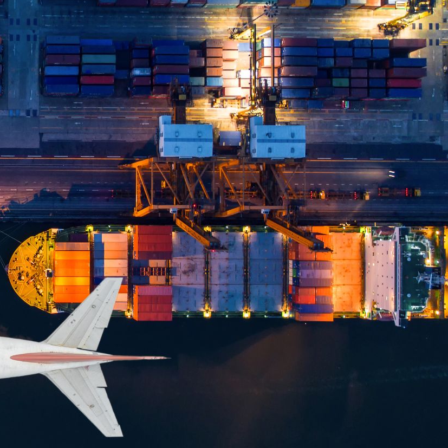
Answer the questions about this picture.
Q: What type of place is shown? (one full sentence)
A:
This image shows a port.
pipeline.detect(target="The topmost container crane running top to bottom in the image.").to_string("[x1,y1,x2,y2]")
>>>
[226,24,274,122]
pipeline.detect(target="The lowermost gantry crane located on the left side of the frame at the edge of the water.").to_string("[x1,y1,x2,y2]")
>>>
[109,74,249,251]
